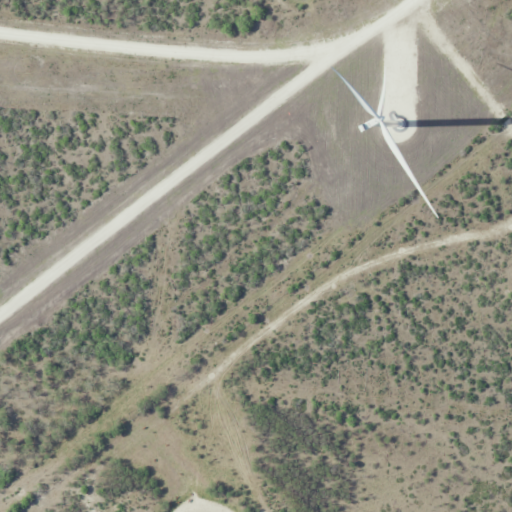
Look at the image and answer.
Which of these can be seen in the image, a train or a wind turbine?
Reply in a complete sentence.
I can see a wind turbine in this picture.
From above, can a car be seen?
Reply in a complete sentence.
No, I can see no car in this picture.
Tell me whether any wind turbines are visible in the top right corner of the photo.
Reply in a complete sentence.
Yes, in the top right corner of the photo there is a wind turbine.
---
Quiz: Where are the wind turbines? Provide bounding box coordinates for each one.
[336,62,438,218]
